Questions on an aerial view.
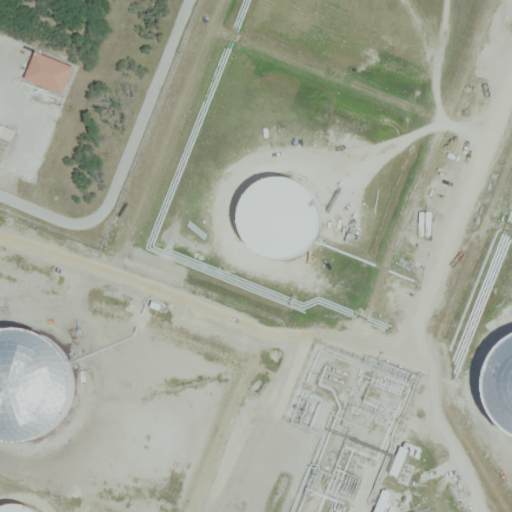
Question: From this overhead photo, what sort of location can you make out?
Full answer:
The area seen from above is an industrial area.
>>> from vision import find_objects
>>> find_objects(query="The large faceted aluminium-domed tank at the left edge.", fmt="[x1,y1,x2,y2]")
[0,327,76,442]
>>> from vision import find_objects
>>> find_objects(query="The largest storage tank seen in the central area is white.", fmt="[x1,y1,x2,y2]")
[234,176,322,262]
